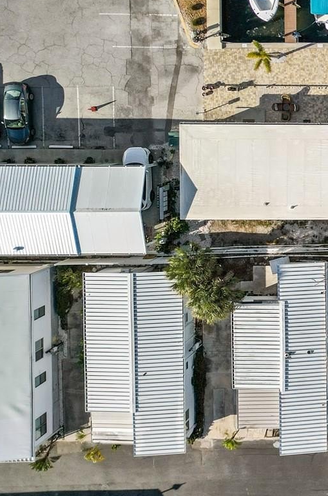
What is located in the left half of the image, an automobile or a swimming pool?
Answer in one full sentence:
The one visible in the left half of the image is an automobile.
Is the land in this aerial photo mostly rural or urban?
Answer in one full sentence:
The land in this view is best described as urban.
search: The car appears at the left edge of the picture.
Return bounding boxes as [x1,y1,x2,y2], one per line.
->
[1,82,36,143]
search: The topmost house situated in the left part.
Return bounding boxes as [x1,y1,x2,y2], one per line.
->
[0,164,166,257]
